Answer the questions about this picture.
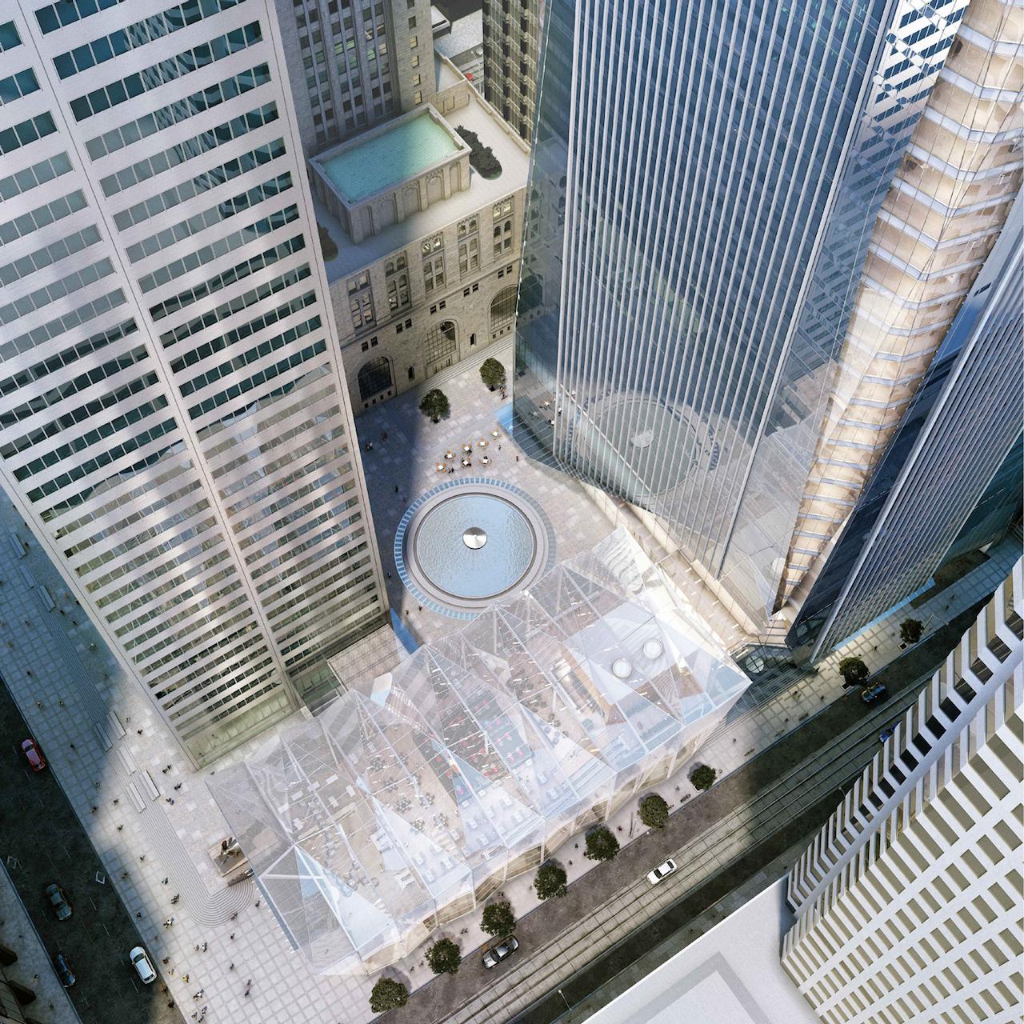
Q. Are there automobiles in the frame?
Yes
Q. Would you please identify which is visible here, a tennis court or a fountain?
fountain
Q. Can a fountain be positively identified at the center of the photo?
Yes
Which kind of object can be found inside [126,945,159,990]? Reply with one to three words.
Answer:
car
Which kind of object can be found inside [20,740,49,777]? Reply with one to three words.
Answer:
car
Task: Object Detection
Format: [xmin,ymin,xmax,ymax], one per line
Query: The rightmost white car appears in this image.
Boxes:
[645,858,681,889]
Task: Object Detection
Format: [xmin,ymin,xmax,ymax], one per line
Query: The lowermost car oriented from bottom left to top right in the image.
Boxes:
[480,934,522,970]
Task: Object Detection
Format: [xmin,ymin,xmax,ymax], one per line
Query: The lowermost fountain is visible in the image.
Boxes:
[394,477,557,621]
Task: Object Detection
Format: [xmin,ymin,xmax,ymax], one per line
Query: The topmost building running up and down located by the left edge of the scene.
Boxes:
[0,0,396,772]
